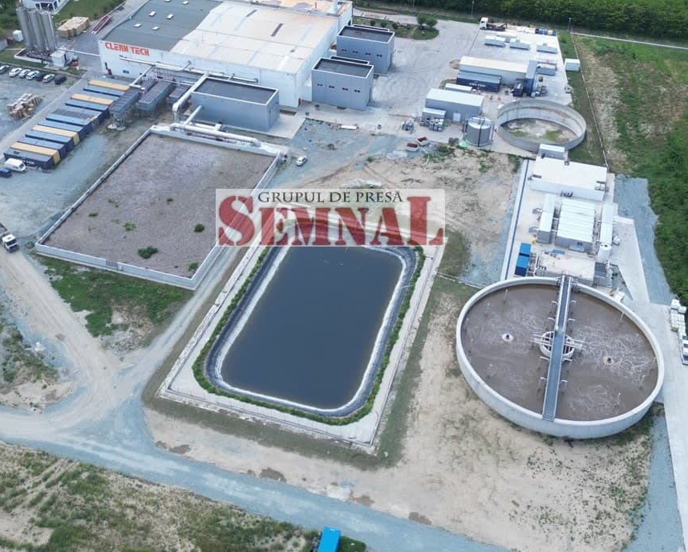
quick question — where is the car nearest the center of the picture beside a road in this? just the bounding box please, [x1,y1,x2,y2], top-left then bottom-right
[293,155,309,167]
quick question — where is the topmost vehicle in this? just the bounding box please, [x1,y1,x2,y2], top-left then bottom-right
[480,16,505,32]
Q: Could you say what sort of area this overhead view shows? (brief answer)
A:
industrial area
